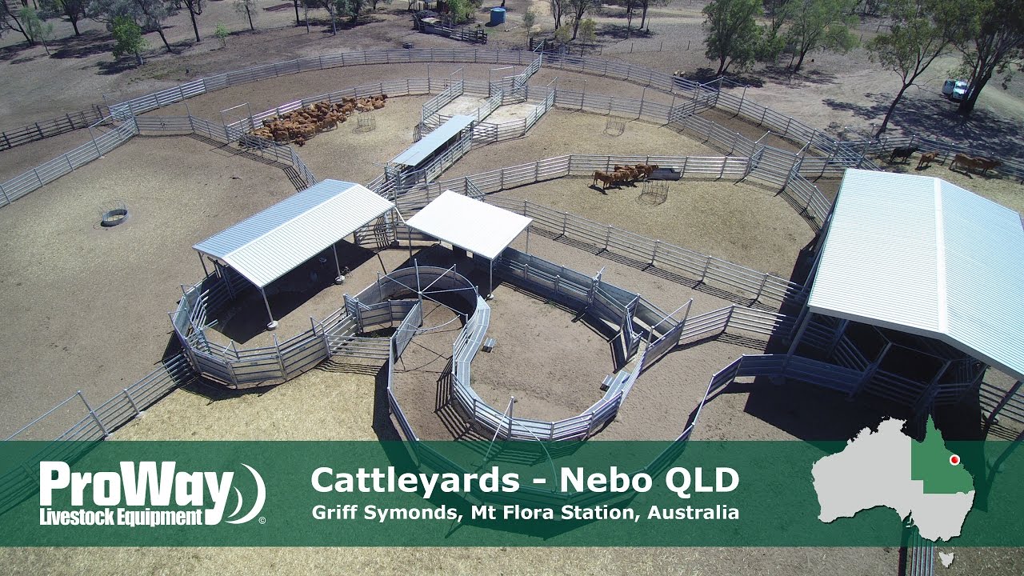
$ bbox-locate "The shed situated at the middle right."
[779,168,1024,457]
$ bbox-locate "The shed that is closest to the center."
[405,189,534,293]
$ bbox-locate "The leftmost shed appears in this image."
[191,178,400,326]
